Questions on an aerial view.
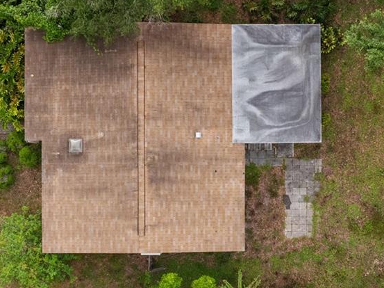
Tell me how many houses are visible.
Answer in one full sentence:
Altogether the scene contains 1 house.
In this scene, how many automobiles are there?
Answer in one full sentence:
The count of automobiles is 0.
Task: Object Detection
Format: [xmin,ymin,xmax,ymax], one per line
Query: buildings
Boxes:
[25,24,322,259]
